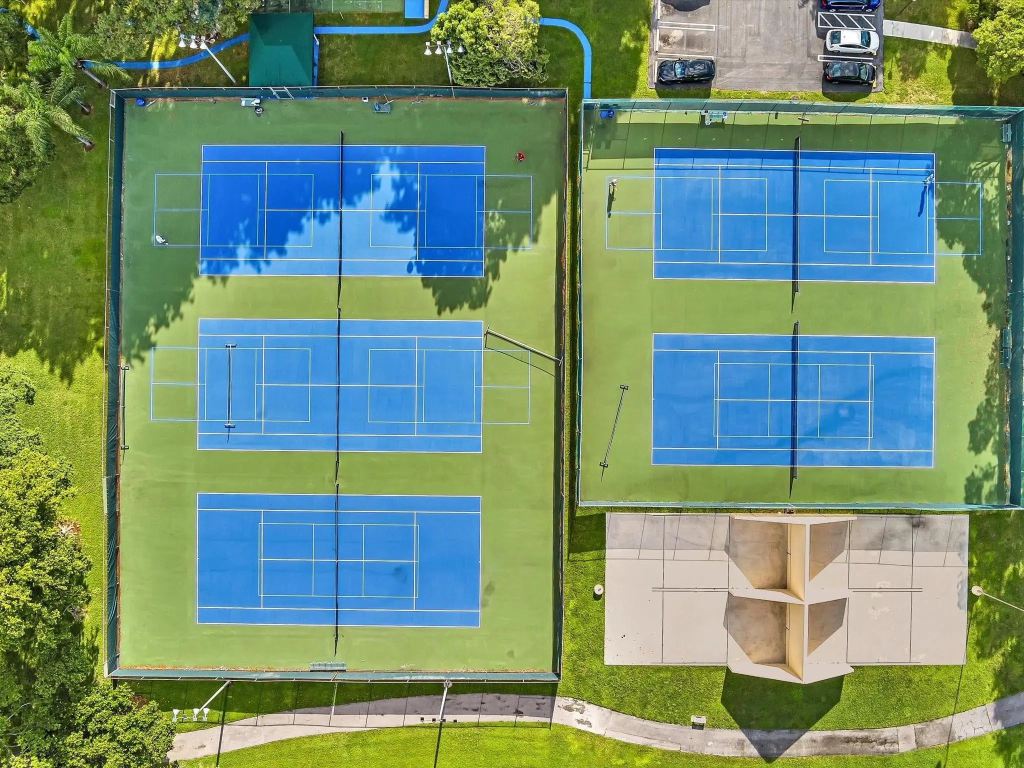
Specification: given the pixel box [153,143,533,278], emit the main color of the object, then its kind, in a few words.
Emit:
blue tennis court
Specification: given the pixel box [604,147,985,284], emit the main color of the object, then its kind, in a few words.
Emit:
blue tennis court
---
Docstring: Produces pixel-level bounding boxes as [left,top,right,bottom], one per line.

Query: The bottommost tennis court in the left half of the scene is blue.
[197,493,481,627]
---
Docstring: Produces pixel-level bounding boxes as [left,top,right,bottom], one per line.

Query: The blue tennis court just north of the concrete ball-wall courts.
[650,333,937,468]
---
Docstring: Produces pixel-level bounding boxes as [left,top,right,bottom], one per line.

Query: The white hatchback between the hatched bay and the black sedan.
[828,27,882,55]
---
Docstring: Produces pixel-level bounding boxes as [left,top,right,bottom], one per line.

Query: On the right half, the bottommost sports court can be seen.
[604,513,969,684]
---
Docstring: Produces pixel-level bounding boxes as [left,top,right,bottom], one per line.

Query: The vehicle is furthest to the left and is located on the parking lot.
[659,56,717,86]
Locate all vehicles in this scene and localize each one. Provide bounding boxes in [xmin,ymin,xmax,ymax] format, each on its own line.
[823,0,881,13]
[659,56,717,86]
[828,59,878,86]
[828,27,882,55]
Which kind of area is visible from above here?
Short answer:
sports ground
